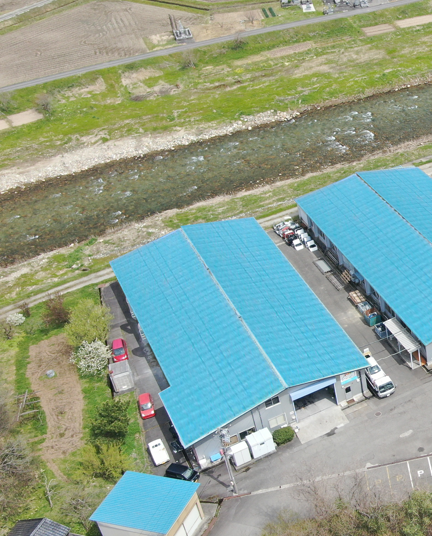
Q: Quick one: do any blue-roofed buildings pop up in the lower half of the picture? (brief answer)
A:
Yes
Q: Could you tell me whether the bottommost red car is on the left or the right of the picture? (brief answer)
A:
left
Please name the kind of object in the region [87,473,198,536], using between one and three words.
building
